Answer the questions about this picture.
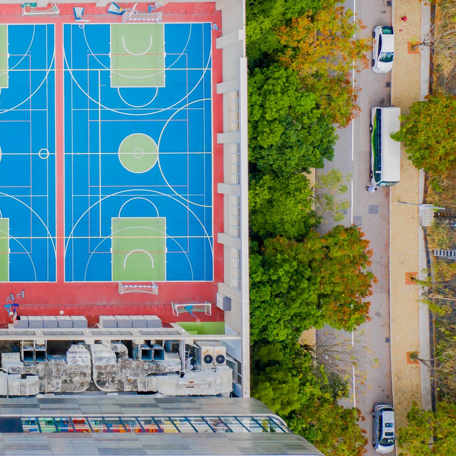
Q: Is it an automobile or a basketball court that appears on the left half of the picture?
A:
basketball court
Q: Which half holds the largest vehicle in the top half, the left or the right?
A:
right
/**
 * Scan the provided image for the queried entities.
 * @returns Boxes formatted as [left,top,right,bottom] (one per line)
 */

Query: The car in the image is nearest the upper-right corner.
[372,26,399,72]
